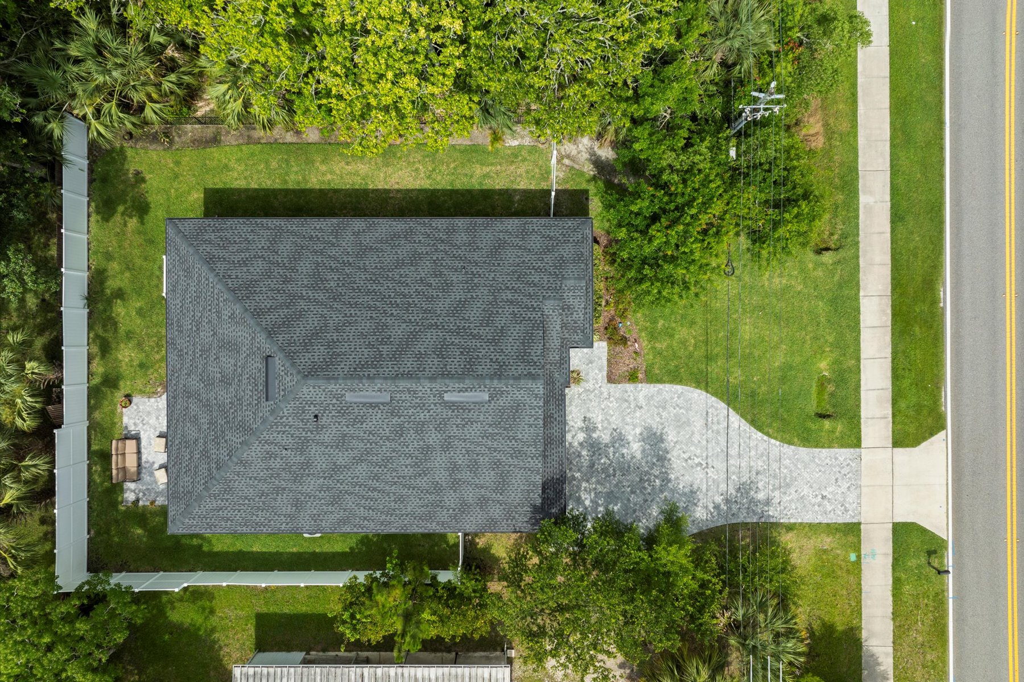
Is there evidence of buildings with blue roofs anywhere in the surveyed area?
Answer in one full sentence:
No, no building with a blue roof can be seen from above.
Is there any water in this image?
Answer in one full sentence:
No, the picture contains no water.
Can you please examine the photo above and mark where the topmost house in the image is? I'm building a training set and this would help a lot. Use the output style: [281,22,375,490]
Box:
[164,215,595,535]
